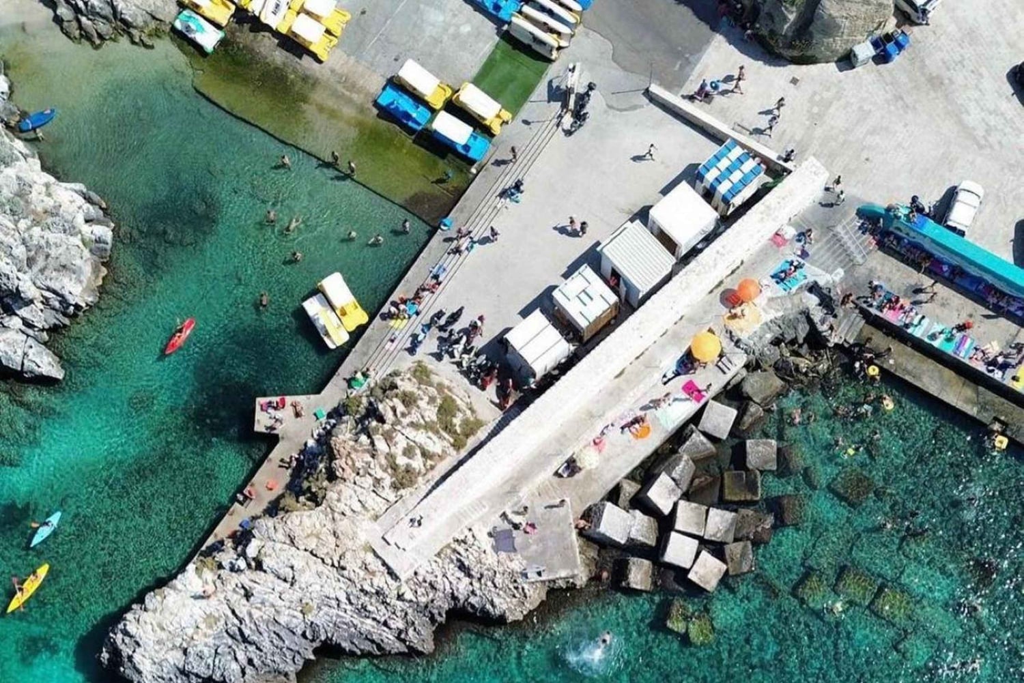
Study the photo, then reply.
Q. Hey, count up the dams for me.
zero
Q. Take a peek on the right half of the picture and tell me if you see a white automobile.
Yes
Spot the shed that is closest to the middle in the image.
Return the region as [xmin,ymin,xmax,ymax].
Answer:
[505,309,570,382]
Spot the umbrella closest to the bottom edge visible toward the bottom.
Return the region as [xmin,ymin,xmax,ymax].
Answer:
[574,444,600,471]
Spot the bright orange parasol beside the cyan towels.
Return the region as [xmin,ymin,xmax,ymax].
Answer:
[734,281,760,304]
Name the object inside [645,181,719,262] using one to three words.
shed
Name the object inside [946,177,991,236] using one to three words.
car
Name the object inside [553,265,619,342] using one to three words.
shed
